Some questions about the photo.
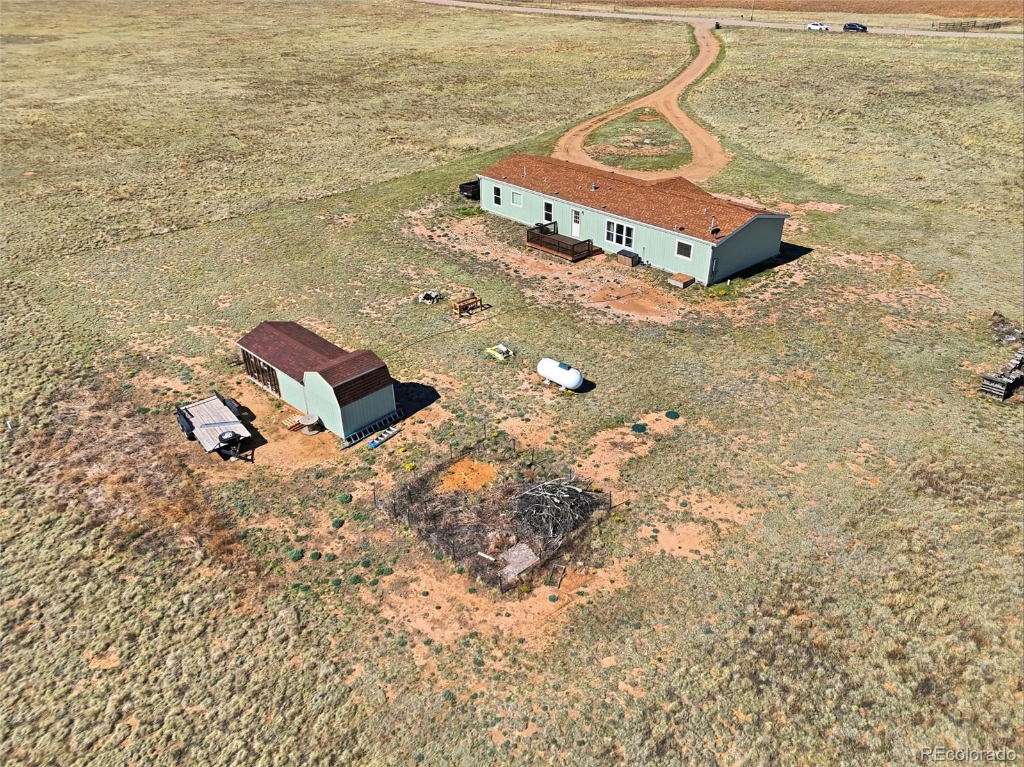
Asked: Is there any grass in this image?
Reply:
Yes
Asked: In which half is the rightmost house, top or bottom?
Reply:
top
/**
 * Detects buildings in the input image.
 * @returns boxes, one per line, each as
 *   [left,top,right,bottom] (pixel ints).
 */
[235,320,397,437]
[473,153,791,285]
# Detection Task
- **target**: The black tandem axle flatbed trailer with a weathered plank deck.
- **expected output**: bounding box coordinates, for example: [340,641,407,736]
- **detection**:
[174,386,252,465]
